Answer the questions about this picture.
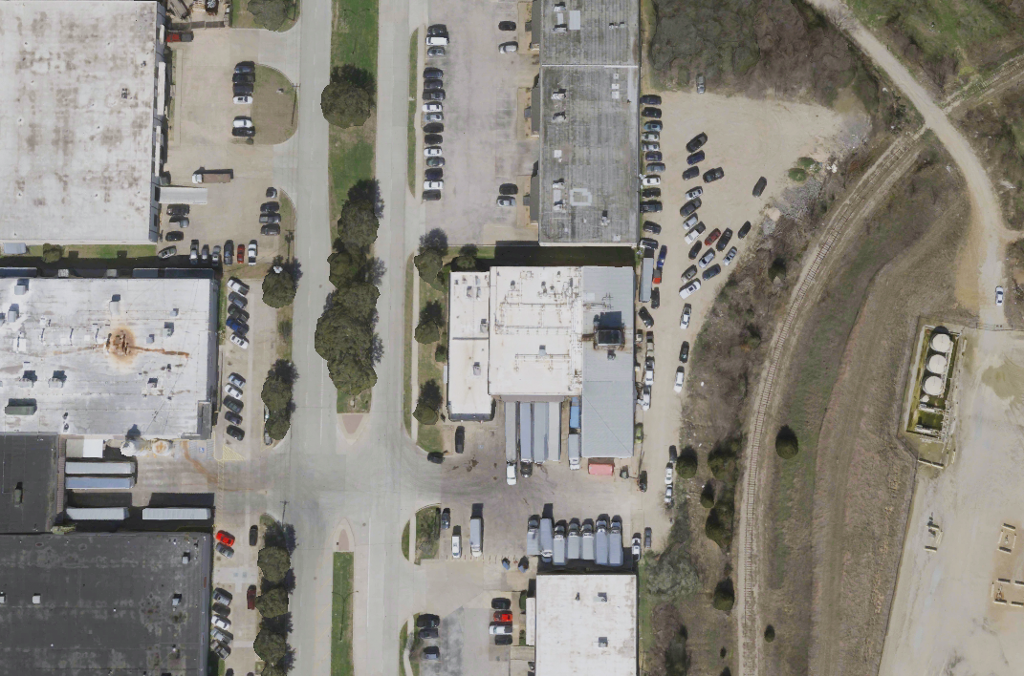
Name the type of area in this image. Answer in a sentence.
The area seen from above is an industrial area.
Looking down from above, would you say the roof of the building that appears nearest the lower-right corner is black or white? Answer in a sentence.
The roof of the building that appears nearest the lower-right corner looks white in the image.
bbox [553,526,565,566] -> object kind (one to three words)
vehicle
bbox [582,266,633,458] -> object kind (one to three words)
shed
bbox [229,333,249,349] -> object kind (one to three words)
car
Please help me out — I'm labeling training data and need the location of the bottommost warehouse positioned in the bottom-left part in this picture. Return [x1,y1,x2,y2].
[0,533,211,676]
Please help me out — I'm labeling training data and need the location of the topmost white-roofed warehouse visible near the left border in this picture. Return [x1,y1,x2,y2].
[0,0,212,245]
